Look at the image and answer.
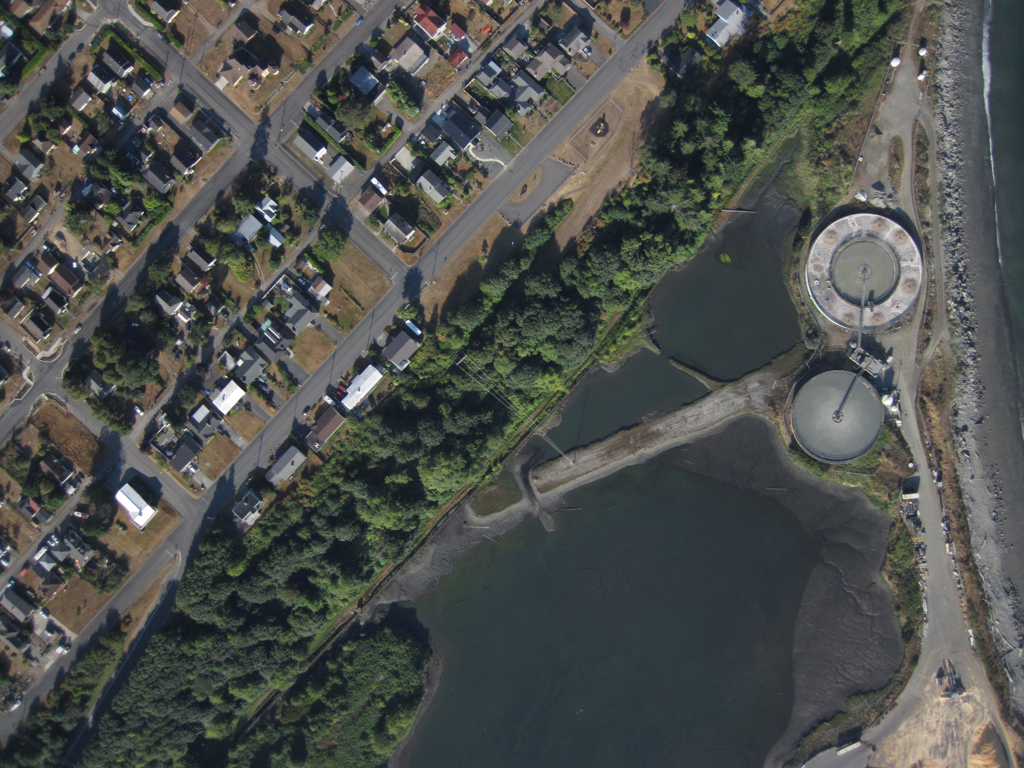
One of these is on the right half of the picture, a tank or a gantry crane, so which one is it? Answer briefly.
tank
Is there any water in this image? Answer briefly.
Yes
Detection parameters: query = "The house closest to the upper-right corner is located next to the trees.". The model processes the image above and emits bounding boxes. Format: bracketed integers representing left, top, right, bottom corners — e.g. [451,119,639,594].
[705,0,746,50]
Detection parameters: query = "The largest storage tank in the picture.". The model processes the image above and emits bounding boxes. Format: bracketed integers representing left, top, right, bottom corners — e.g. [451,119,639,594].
[805,214,923,329]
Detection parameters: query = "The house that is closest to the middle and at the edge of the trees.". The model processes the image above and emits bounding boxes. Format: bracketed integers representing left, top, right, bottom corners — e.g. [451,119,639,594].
[385,331,420,367]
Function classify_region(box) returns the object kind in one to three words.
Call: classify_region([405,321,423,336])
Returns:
camper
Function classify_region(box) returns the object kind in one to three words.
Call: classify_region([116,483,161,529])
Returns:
building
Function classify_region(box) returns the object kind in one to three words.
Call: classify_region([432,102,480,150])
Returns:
house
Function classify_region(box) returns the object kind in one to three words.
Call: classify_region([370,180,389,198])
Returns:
camper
